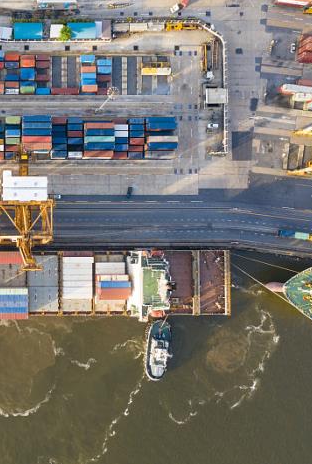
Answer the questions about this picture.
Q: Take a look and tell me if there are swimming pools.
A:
No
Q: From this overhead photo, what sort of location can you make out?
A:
port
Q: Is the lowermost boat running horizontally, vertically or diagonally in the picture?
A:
vertically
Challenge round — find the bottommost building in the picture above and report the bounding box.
[201,87,229,105]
